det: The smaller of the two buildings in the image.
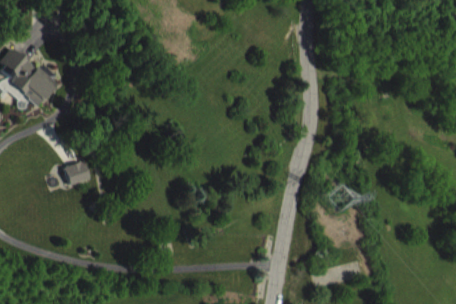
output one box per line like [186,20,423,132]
[62,162,91,186]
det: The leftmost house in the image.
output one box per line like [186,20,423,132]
[0,50,58,112]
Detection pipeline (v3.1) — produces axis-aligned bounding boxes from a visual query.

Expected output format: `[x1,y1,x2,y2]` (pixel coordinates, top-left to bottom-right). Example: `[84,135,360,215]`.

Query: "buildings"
[0,50,58,112]
[62,162,91,186]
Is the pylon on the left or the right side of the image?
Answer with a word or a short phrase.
right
